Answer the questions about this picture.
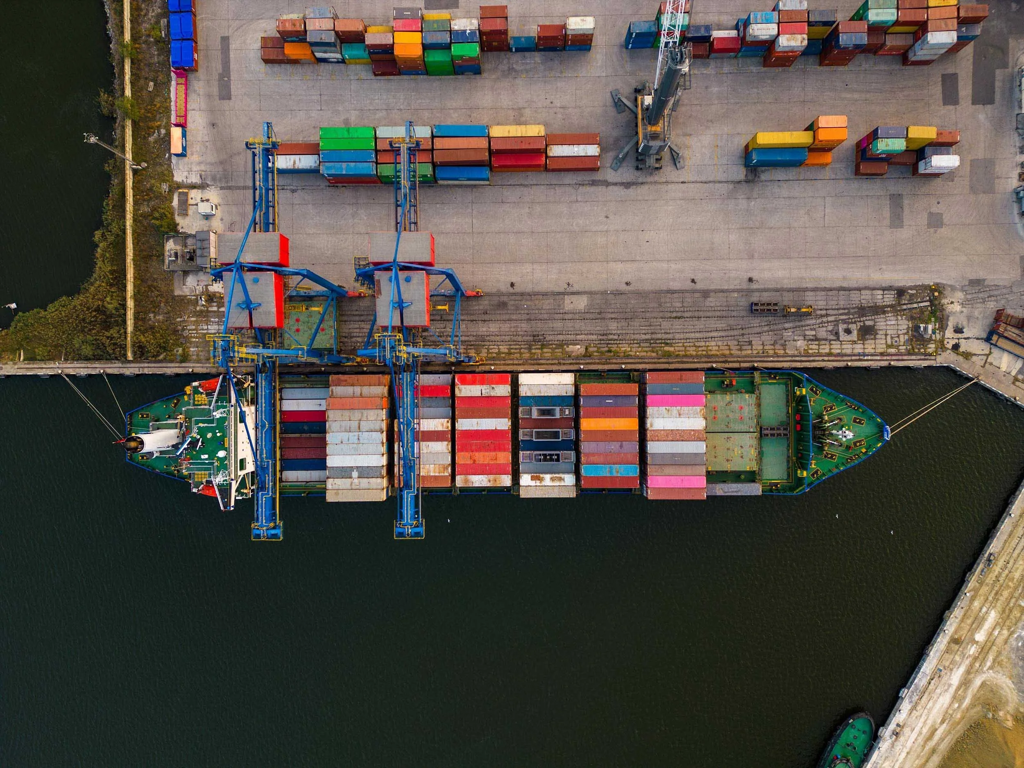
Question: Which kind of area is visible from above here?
port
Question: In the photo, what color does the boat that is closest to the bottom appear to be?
green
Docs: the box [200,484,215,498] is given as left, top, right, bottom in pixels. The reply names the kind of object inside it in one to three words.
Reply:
boat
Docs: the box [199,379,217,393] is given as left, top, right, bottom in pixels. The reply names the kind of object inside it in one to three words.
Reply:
boat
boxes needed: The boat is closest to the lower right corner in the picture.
[807,705,875,768]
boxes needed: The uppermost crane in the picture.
[610,0,703,172]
